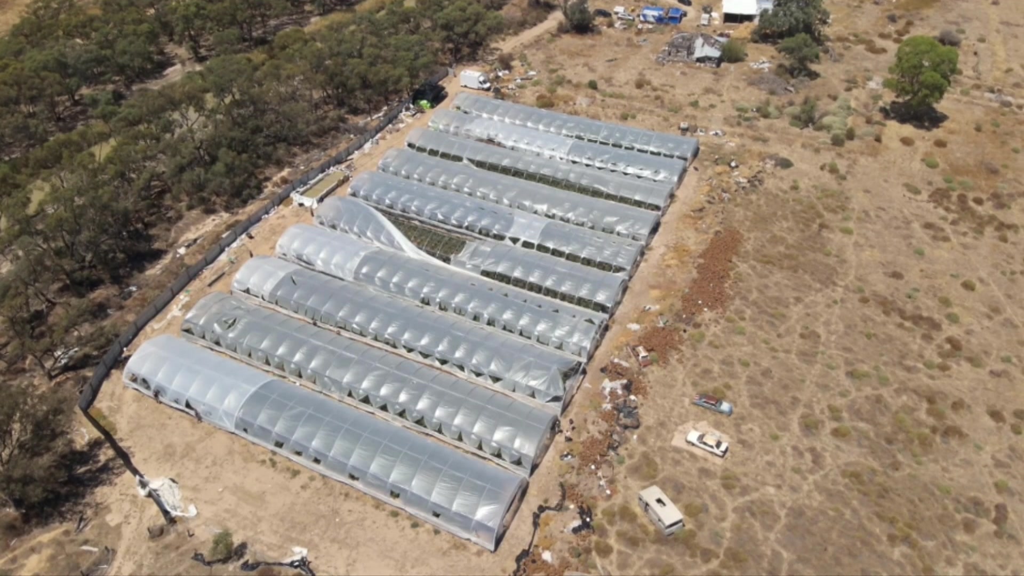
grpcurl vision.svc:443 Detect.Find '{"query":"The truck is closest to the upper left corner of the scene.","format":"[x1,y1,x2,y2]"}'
[461,69,494,91]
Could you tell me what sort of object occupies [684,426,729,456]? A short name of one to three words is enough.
car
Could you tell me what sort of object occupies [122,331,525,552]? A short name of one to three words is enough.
greenhouse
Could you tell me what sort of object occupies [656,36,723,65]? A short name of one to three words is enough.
house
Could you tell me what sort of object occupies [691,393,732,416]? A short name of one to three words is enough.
car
